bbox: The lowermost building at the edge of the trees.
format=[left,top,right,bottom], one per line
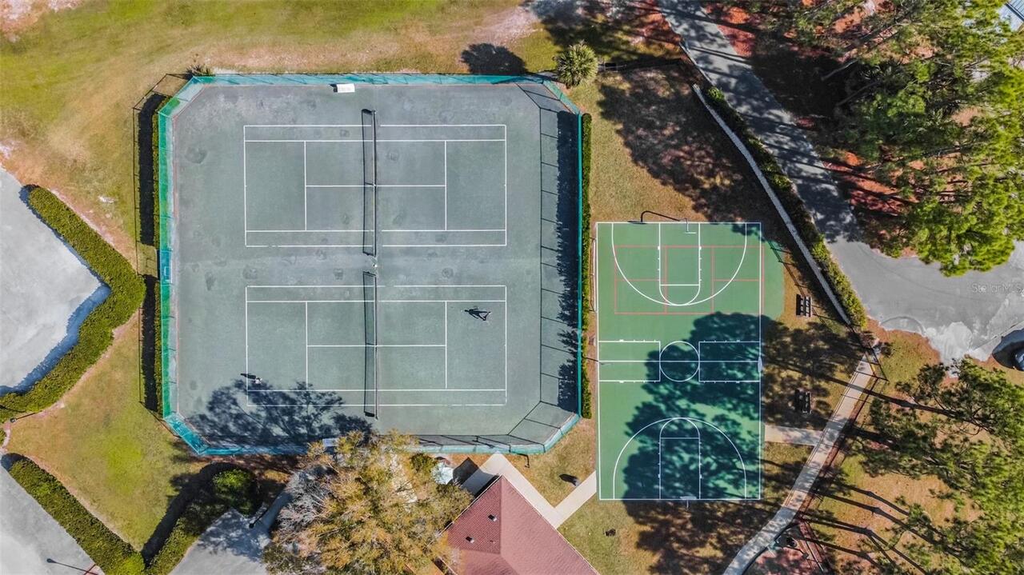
[438,475,606,575]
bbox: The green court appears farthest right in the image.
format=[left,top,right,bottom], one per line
[595,221,785,503]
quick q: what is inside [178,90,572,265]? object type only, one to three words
tennis court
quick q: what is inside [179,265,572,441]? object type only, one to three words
tennis court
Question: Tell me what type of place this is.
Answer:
sports ground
